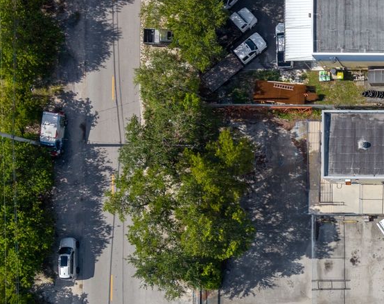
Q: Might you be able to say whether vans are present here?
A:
Yes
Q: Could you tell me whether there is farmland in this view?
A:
No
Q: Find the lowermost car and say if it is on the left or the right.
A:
left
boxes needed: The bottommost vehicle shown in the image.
[56,238,80,279]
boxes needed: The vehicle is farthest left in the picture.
[37,109,66,158]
